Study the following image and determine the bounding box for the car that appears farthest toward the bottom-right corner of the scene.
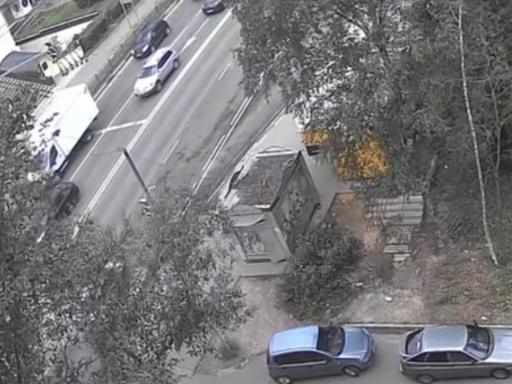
[399,319,512,381]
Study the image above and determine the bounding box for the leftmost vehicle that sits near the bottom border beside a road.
[263,318,377,384]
